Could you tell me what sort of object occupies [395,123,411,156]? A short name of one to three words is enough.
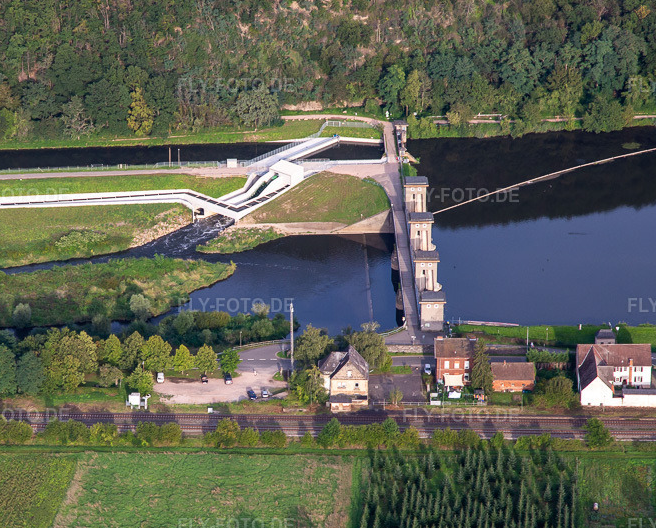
building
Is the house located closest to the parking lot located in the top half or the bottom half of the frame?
bottom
